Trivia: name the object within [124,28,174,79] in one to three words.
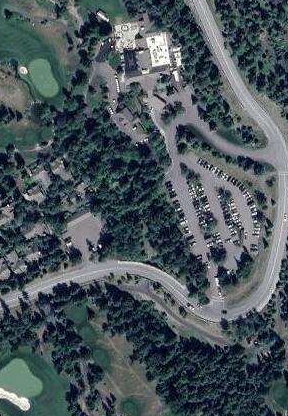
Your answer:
building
